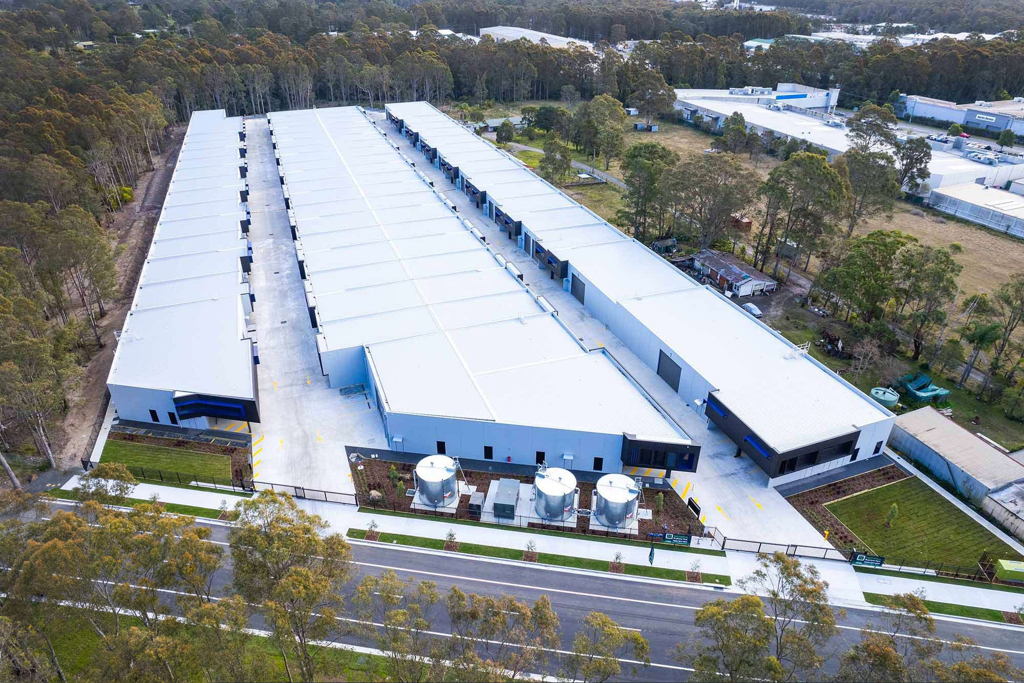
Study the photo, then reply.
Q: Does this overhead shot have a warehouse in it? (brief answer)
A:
Yes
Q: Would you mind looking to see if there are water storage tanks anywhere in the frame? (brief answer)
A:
Yes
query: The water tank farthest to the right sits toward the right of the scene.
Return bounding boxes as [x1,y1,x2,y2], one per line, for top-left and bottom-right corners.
[869,378,898,406]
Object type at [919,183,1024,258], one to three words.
shed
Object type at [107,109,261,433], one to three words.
warehouse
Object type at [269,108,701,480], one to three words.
warehouse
